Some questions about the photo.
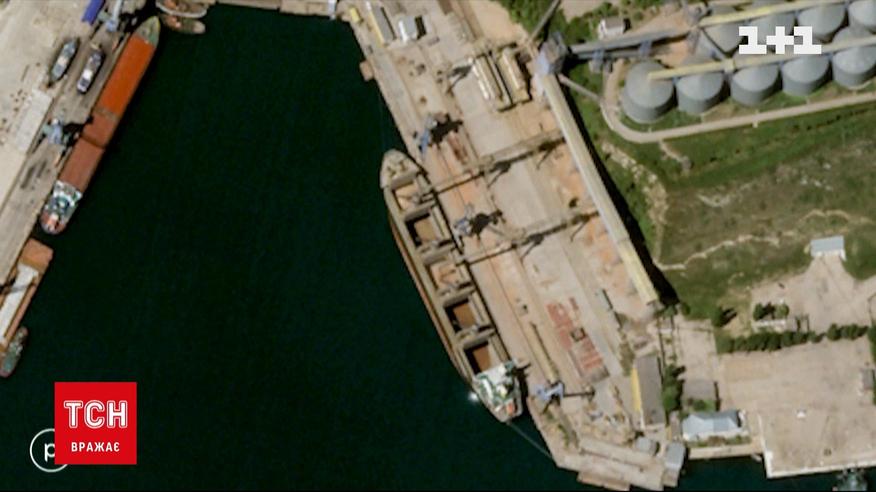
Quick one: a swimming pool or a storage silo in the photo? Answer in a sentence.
Looking from above, you can make out a storage silo.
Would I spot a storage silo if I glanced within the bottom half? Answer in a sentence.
No, I can find no storage silo within the bottom half.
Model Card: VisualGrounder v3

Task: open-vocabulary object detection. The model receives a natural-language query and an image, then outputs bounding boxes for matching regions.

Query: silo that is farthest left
[622,64,674,123]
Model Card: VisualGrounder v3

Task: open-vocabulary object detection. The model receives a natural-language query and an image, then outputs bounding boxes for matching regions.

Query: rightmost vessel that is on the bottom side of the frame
[834,466,865,492]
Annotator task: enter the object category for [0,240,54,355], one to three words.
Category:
ship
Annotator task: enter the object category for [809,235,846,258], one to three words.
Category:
hangar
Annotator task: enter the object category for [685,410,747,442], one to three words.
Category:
house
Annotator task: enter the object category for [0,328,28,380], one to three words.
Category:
boat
